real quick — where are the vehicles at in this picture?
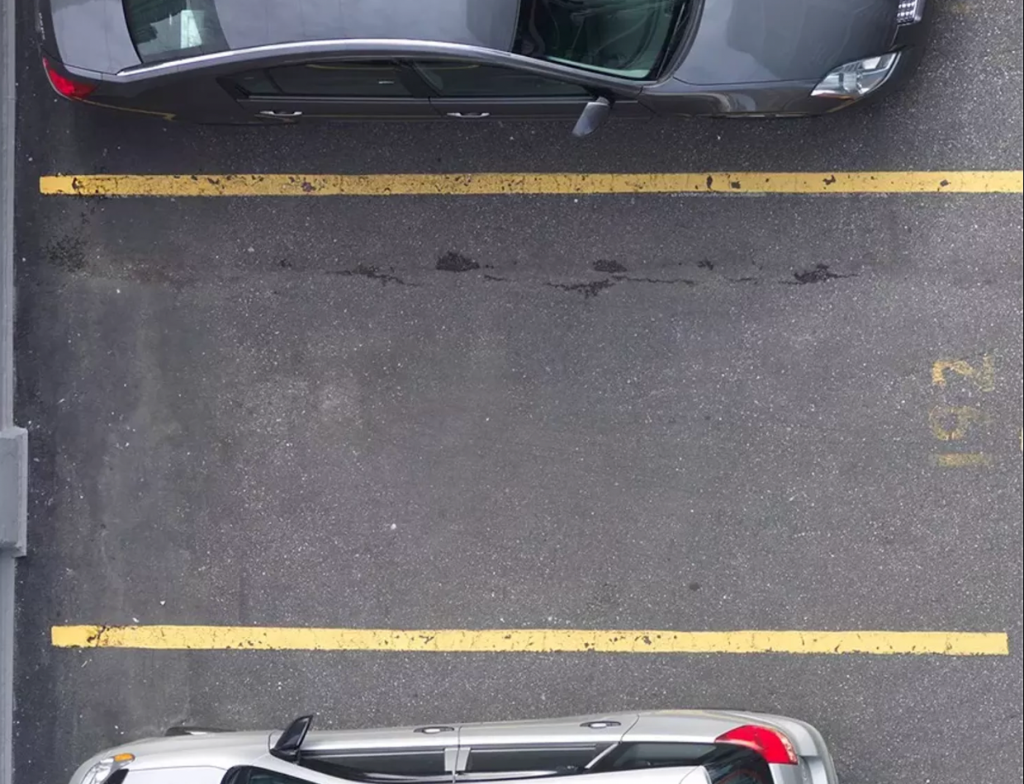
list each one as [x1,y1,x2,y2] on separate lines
[65,709,836,784]
[35,0,930,135]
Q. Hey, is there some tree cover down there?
No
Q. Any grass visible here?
No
